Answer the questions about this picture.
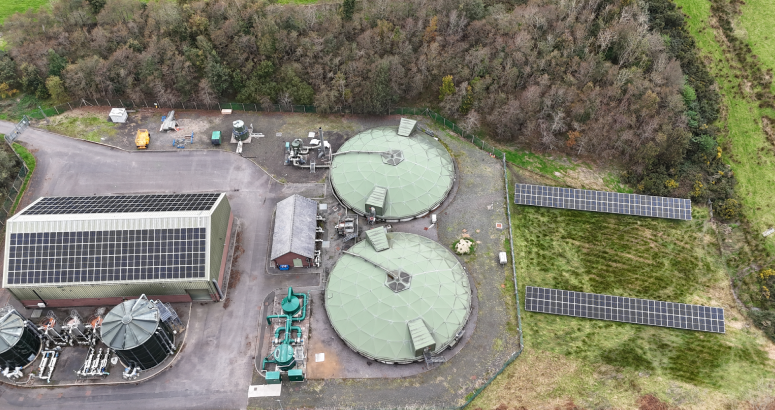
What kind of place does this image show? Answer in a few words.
industrial area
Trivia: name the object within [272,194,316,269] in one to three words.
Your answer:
shed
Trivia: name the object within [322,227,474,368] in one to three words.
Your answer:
storage tank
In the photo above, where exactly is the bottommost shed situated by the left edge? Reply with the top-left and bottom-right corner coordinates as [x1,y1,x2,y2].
[2,191,232,308]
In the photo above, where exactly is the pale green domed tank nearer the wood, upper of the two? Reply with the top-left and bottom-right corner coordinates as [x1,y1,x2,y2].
[328,119,455,224]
